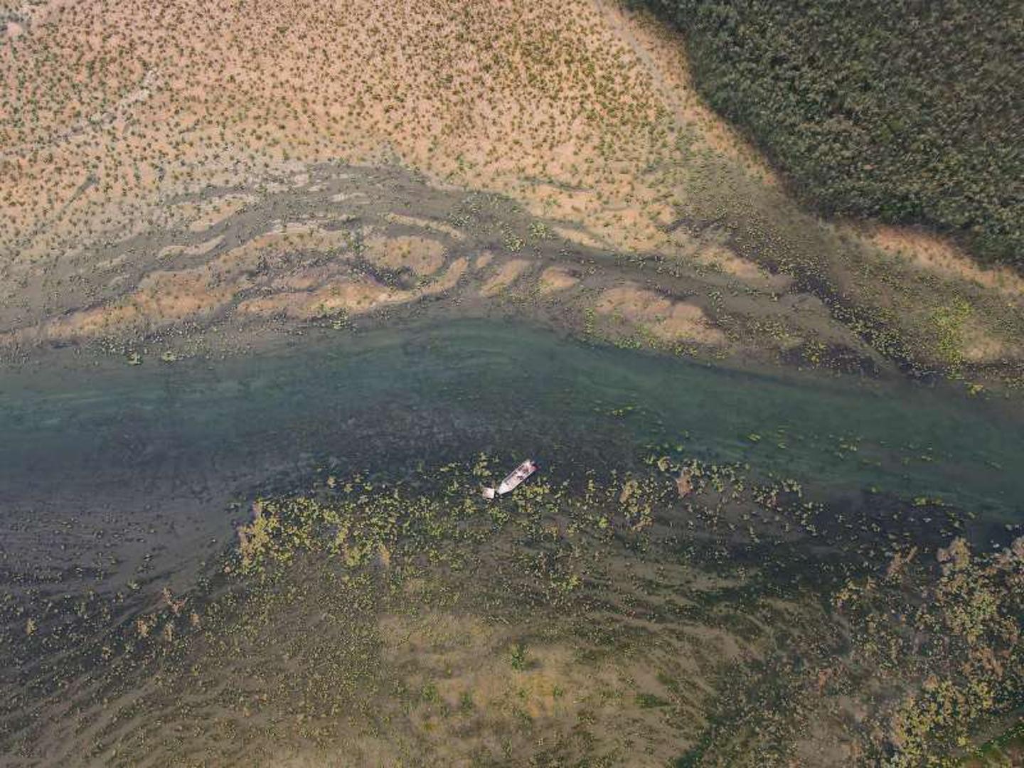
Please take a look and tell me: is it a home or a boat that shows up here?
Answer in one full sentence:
There is a boat in the scene.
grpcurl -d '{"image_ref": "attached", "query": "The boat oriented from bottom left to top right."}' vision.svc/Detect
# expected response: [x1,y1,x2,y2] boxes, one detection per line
[497,461,537,496]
